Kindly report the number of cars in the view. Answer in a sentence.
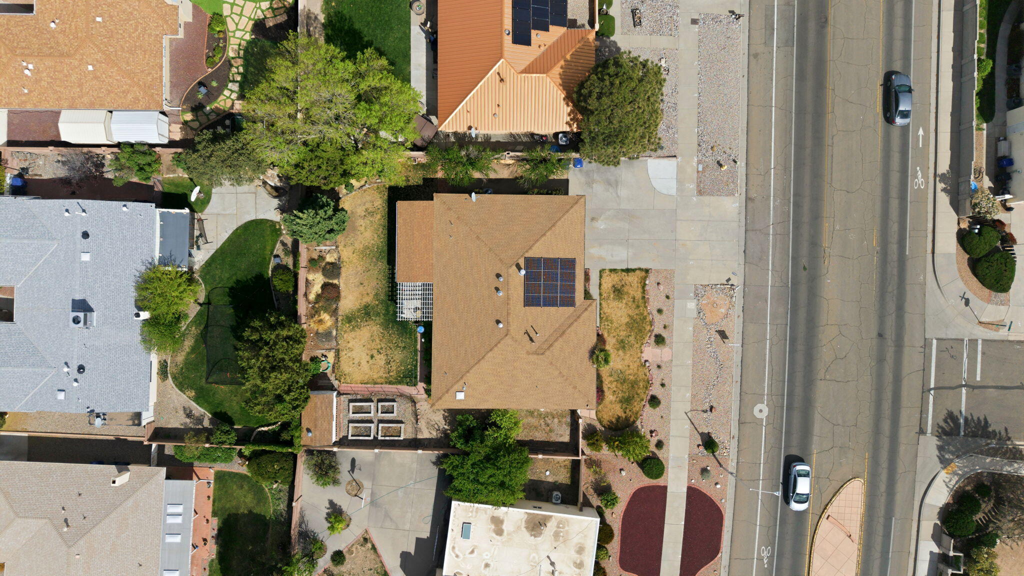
The count of cars comes to 2.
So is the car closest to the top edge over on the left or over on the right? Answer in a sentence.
It is on the right.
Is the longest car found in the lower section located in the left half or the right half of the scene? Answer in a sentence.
The longest car found in the lower section is on the right side of the image.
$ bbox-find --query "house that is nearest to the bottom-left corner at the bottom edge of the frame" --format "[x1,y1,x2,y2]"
[0,461,166,576]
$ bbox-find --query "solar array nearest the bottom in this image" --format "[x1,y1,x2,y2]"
[525,257,576,308]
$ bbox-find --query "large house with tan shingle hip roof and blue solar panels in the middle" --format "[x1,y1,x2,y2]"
[395,193,597,410]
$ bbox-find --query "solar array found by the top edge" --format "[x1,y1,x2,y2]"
[513,0,568,45]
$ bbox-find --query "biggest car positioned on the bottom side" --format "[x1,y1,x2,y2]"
[785,456,814,509]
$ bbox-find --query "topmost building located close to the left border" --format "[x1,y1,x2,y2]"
[0,0,184,111]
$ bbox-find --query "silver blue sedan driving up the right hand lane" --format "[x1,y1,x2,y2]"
[888,72,919,126]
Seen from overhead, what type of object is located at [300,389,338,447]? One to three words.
shed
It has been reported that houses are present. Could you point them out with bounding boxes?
[0,197,157,412]
[442,495,601,576]
[1005,107,1024,208]
[437,0,597,132]
[395,193,597,410]
[0,0,184,111]
[0,461,166,576]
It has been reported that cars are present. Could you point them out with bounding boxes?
[888,72,919,126]
[785,456,814,509]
